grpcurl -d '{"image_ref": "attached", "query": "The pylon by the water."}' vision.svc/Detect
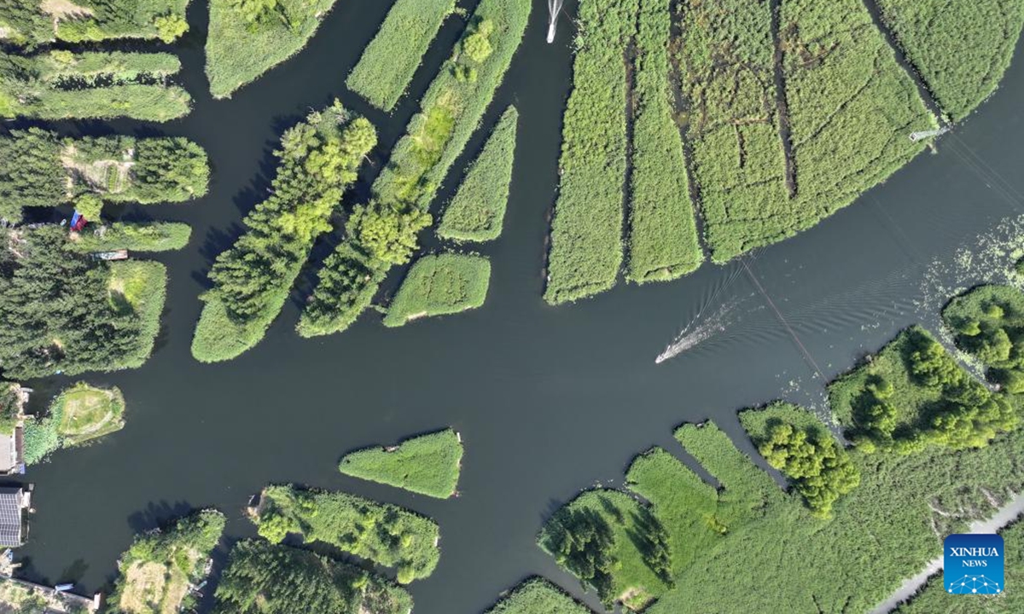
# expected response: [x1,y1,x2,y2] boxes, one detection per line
[908,118,951,142]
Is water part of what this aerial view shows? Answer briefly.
Yes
